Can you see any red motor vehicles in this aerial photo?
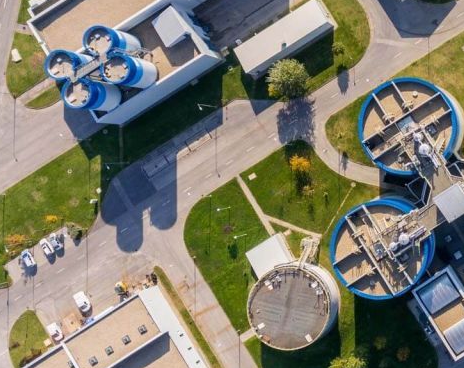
No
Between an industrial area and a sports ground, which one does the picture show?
industrial area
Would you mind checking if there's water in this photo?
No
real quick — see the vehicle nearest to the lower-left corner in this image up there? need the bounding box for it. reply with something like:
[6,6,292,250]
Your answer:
[45,323,63,342]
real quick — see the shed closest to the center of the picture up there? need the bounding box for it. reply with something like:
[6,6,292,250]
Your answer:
[246,232,299,278]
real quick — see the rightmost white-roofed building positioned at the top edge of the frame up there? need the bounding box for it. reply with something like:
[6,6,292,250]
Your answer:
[234,0,338,73]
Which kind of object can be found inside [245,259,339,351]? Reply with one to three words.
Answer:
storage tank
